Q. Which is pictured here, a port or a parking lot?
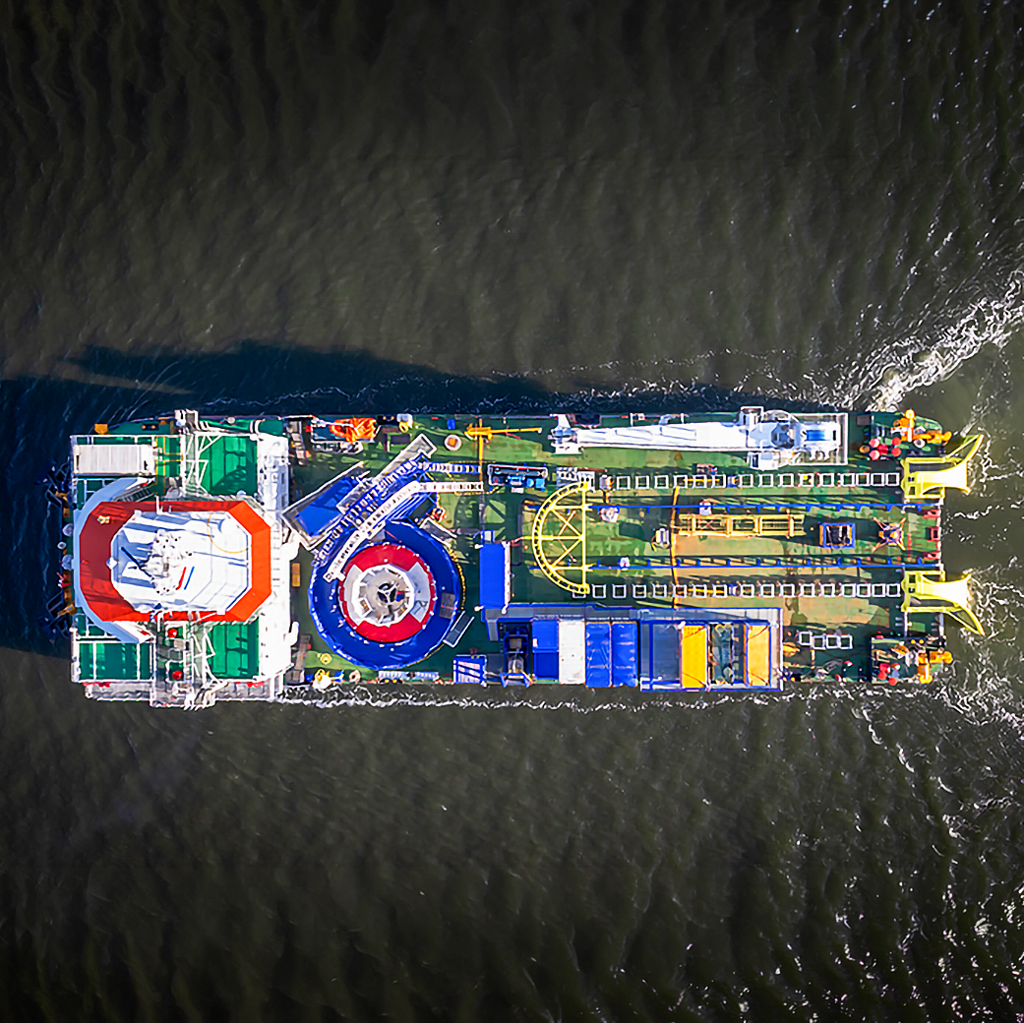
port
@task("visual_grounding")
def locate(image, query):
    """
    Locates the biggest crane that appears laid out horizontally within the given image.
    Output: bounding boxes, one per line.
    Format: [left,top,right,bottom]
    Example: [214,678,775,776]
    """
[577,405,840,471]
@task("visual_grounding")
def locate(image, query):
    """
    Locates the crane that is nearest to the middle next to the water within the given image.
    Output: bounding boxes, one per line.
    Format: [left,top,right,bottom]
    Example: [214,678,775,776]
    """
[465,418,542,531]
